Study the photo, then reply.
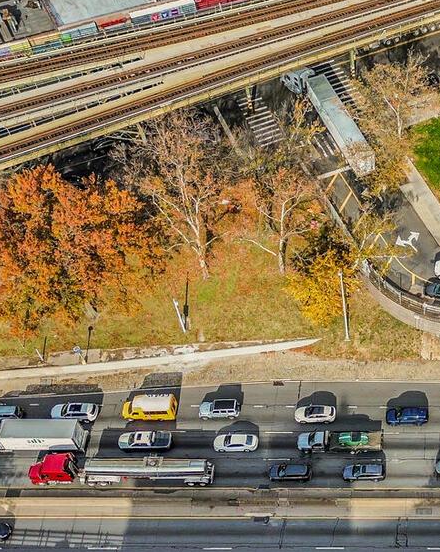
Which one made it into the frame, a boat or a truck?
truck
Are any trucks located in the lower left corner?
Yes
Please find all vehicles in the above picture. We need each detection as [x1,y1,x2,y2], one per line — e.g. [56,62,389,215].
[296,403,336,423]
[214,432,259,452]
[281,73,375,178]
[198,397,241,418]
[28,454,217,487]
[121,394,180,421]
[387,404,428,425]
[338,426,373,446]
[295,426,384,455]
[341,461,385,482]
[423,280,440,298]
[268,461,313,482]
[117,428,174,451]
[51,400,99,421]
[0,403,24,421]
[0,522,15,542]
[0,416,90,453]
